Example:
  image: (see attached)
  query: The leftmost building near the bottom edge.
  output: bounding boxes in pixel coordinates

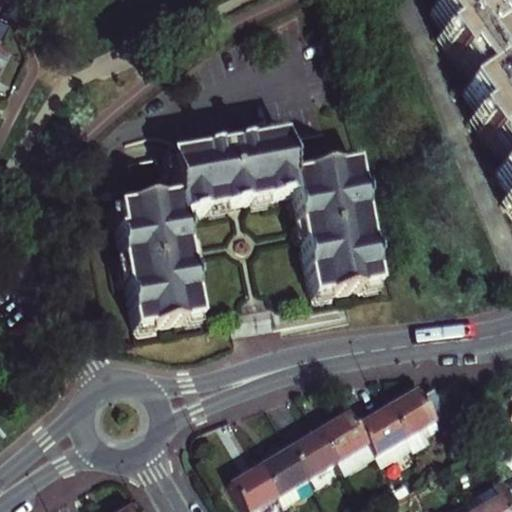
[226,460,284,512]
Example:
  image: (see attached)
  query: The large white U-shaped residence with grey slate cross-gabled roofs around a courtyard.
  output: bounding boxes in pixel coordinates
[114,124,390,341]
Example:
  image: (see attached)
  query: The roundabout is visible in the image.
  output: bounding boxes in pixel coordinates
[68,368,176,476]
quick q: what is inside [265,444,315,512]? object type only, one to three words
house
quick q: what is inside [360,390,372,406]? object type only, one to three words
vehicle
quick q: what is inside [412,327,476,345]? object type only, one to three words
vehicle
